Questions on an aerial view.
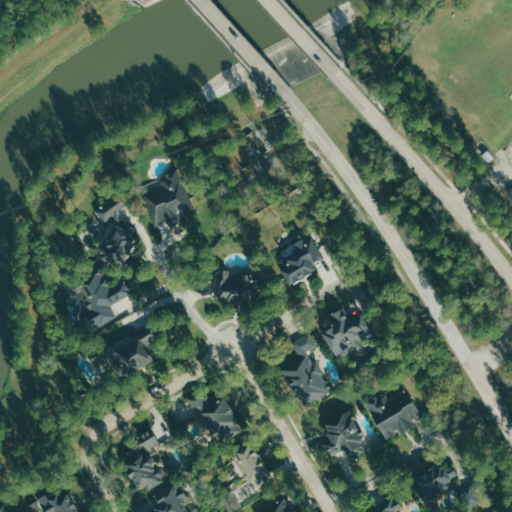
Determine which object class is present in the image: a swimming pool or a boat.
swimming pool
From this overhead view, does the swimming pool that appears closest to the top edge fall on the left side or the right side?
left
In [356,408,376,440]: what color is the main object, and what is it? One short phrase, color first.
blue swimming pool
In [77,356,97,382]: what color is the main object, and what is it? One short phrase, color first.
blue swimming pool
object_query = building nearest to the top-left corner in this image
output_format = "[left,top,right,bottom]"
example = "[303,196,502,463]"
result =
[91,194,128,224]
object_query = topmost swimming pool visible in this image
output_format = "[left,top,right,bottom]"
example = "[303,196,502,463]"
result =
[148,158,170,178]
